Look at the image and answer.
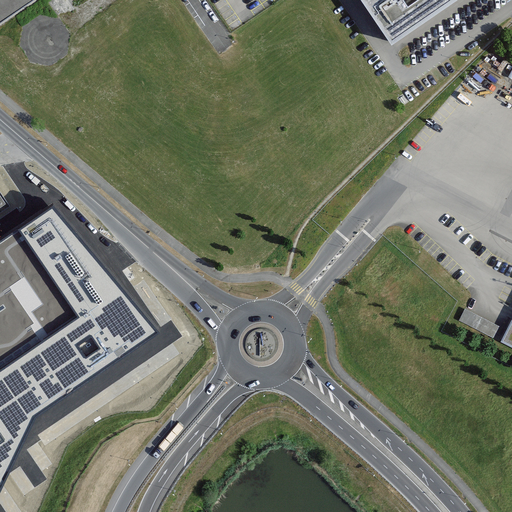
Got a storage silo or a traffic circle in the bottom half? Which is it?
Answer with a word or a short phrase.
traffic circle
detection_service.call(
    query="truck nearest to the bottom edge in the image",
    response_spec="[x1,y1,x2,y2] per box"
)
[155,424,183,456]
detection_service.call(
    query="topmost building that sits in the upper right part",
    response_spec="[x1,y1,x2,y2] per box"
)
[359,0,460,46]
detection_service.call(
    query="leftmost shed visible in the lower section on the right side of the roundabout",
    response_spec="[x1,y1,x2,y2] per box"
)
[459,308,500,338]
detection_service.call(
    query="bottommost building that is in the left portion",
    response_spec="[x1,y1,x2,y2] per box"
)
[0,204,160,488]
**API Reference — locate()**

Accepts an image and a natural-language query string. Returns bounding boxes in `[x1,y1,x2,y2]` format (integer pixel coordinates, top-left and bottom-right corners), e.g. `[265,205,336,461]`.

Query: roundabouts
[216,300,307,390]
